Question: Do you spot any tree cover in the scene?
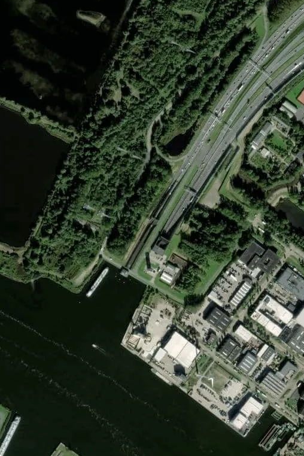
Yes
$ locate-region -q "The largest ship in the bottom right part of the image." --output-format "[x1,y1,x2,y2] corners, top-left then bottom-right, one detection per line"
[265,426,288,450]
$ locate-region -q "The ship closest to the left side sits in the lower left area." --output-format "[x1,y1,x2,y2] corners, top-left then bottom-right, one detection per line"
[0,415,21,456]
